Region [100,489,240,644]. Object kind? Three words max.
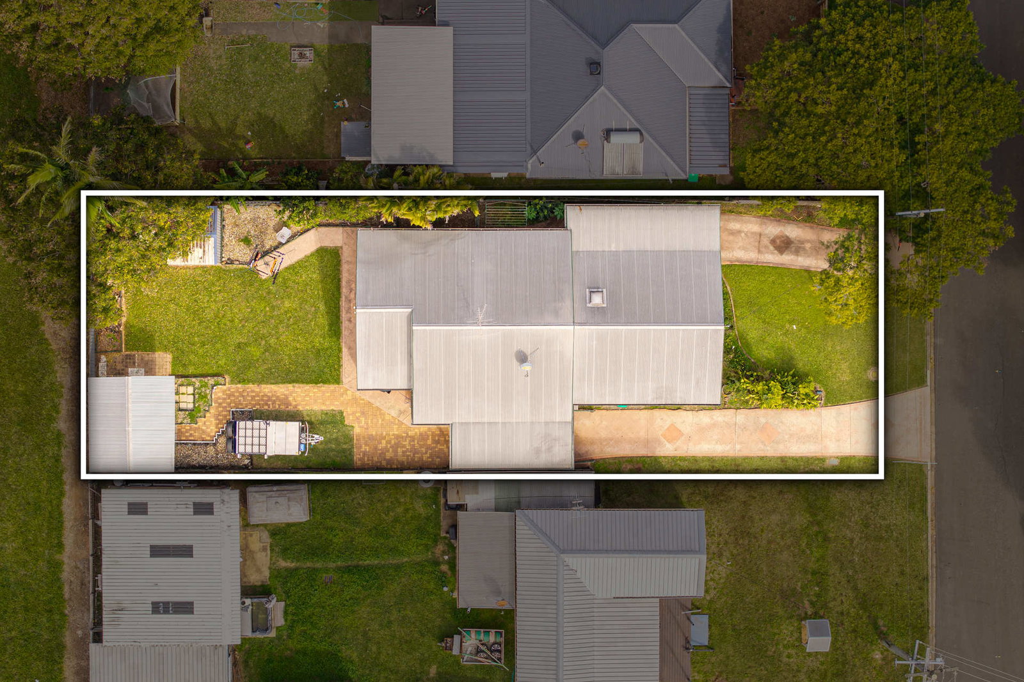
shed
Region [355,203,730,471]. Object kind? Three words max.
house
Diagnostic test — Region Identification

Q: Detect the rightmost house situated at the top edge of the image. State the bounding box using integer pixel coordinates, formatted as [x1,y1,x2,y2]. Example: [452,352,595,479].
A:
[370,0,735,179]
